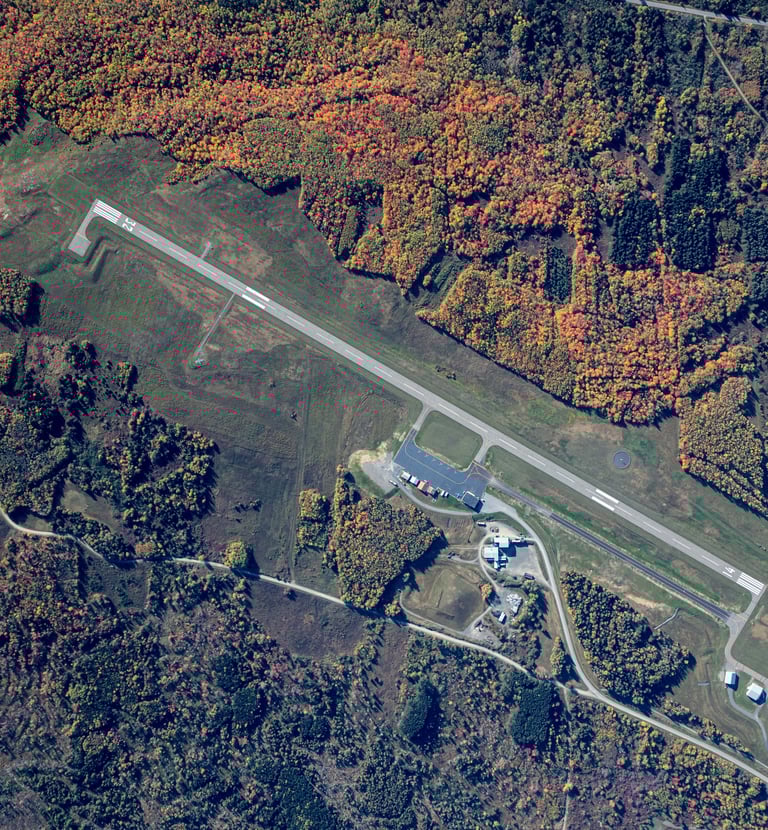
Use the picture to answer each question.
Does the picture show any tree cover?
Yes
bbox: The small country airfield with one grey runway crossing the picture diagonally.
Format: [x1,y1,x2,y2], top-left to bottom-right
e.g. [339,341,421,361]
[69,199,768,686]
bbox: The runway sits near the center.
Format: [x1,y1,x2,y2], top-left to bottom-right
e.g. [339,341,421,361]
[91,199,767,597]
